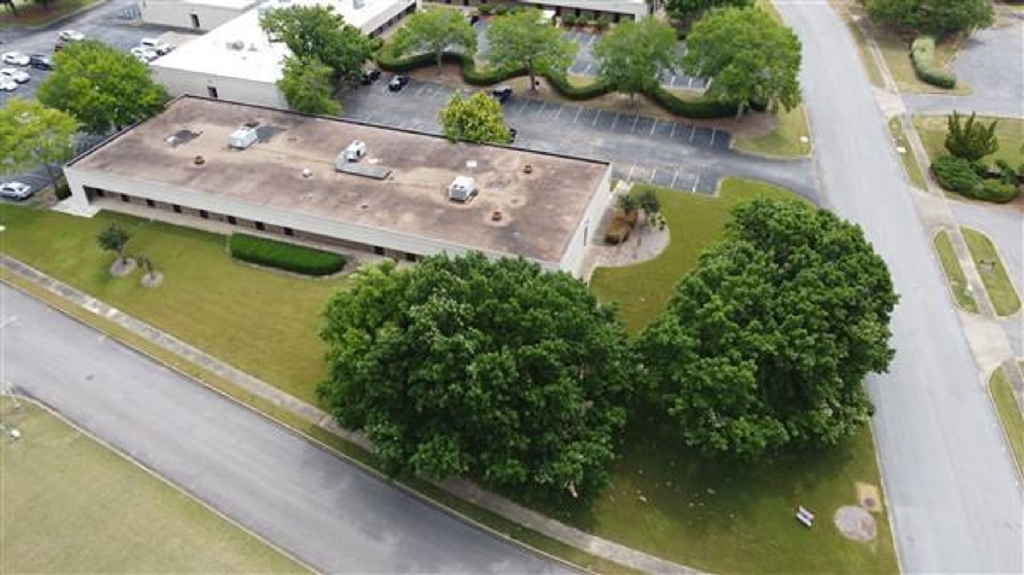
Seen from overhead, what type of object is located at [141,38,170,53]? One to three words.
car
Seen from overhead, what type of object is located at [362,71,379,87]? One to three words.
car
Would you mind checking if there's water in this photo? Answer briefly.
No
